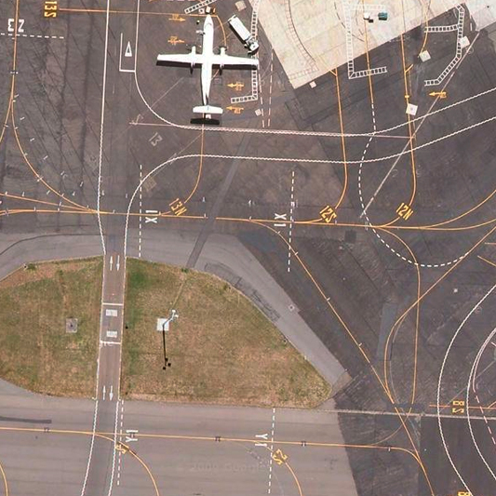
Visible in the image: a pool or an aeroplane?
aeroplane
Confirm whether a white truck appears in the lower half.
No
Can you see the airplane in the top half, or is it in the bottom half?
top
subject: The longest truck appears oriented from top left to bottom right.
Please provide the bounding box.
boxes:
[229,14,259,50]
